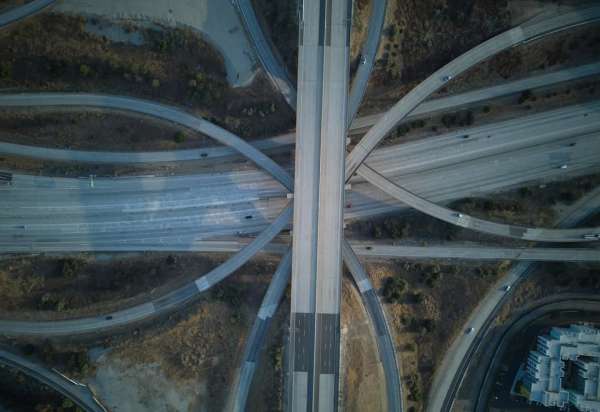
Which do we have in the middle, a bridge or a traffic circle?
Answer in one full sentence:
There is a bridge in the middle.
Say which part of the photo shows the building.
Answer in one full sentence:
You can find the building in the bottom right area of the picture.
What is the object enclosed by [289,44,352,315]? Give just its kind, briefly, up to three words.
bridge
